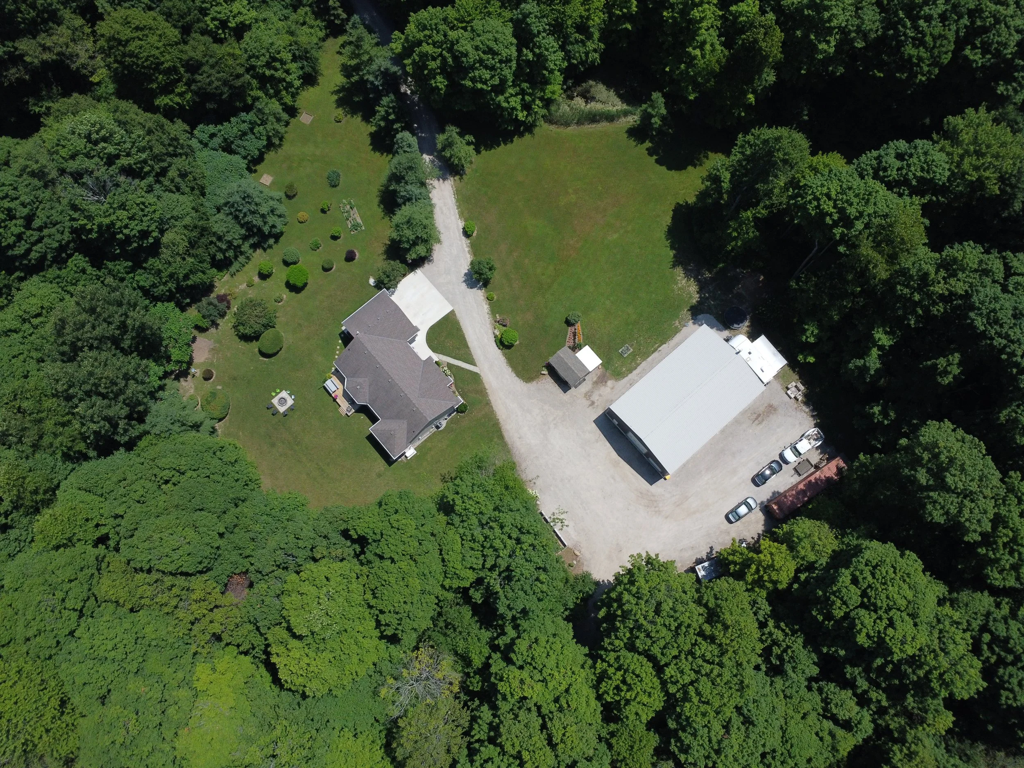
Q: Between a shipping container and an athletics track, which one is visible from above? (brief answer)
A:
shipping container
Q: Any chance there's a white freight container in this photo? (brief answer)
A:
No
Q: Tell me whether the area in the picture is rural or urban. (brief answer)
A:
rural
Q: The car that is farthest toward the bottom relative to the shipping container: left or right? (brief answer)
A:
to the left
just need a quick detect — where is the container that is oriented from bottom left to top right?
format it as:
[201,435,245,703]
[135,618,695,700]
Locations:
[766,457,850,520]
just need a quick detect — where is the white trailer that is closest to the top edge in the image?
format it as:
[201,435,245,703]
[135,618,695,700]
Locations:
[724,335,788,384]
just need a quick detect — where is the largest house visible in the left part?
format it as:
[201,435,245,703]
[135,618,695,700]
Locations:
[334,288,463,460]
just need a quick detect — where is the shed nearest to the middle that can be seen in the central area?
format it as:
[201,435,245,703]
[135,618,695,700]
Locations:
[549,345,602,391]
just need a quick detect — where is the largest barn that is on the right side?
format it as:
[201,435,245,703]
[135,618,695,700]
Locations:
[605,323,767,478]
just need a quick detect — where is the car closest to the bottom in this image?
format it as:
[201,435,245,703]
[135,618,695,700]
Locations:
[723,496,757,526]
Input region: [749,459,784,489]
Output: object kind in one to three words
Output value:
car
